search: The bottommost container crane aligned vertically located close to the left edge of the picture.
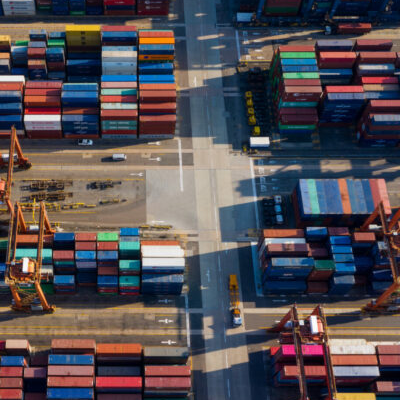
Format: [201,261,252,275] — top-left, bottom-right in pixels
[5,202,56,311]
